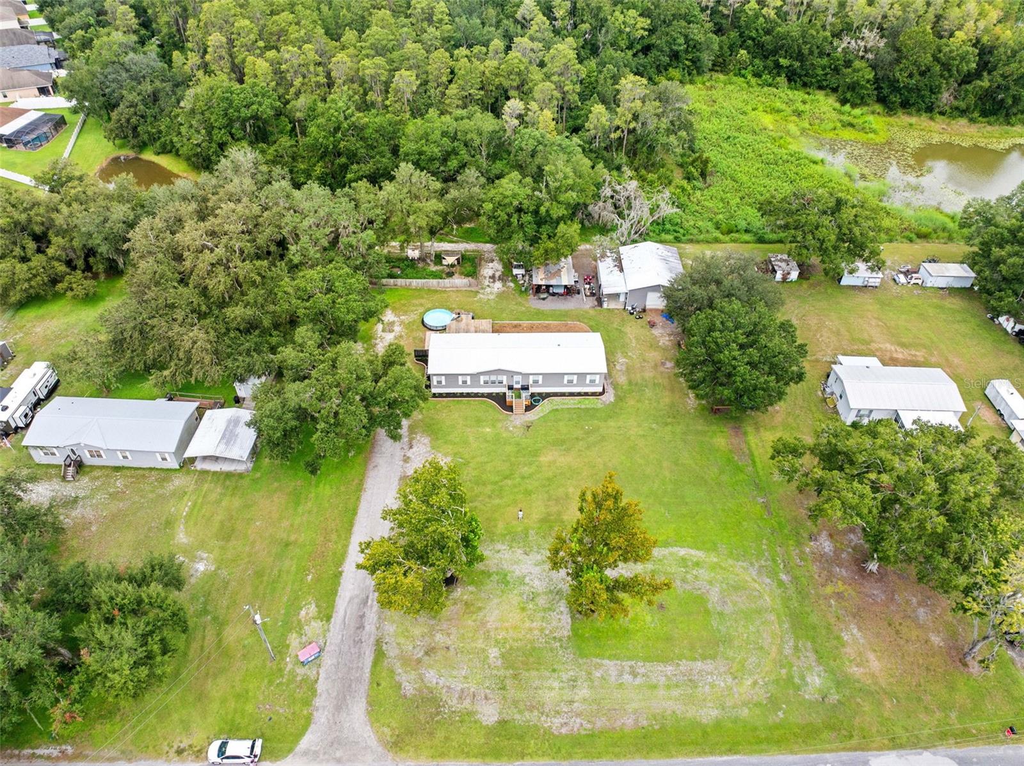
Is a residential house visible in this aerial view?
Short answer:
Yes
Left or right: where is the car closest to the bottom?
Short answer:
left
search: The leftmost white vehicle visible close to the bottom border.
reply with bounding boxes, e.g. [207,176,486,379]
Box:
[206,736,266,766]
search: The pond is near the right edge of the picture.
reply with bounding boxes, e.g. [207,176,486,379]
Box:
[806,132,1024,212]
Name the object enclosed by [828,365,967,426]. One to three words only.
house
